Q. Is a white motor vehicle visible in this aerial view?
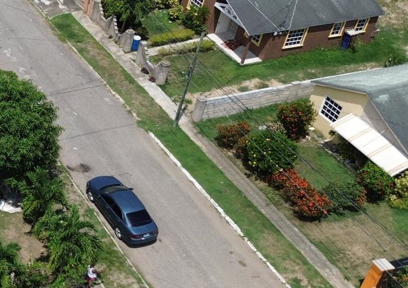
No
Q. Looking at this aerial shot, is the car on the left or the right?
left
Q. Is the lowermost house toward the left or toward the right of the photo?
right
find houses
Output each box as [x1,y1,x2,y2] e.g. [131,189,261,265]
[184,0,389,66]
[309,64,408,184]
